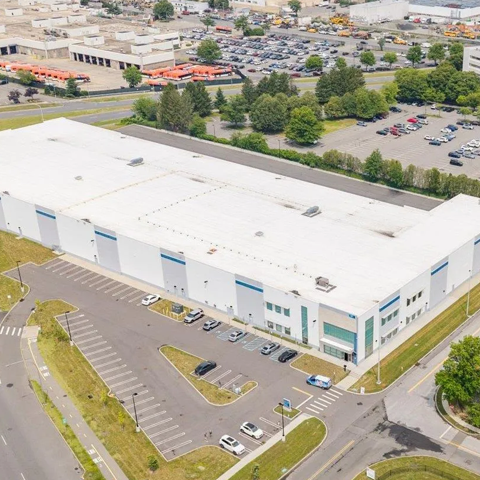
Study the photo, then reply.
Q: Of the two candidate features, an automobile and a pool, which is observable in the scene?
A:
automobile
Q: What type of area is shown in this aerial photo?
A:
industrial area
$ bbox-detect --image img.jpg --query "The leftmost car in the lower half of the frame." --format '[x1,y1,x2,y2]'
[140,293,161,305]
